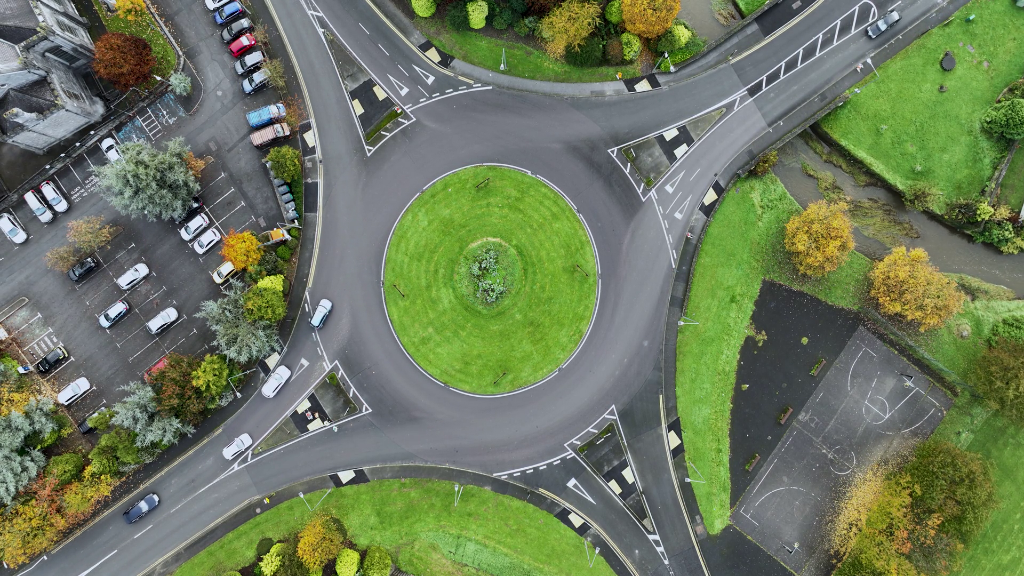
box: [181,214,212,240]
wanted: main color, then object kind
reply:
white car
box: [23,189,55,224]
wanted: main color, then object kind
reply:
white car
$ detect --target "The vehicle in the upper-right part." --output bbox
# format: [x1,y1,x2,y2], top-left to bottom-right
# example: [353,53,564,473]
[864,9,904,40]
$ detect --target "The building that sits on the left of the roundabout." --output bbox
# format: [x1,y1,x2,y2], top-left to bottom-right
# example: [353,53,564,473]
[0,0,107,153]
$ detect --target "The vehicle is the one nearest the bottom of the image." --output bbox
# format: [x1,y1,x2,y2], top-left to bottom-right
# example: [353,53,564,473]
[121,493,161,525]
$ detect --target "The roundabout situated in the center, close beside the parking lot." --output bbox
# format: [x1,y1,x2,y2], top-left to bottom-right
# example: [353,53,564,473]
[305,88,768,474]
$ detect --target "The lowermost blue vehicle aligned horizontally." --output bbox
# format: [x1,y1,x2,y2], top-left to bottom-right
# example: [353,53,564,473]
[245,103,289,128]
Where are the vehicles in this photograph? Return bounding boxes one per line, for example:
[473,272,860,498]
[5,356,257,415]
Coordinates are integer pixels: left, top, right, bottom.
[310,297,333,330]
[39,179,71,215]
[260,365,292,399]
[23,189,55,224]
[99,300,132,327]
[245,103,289,128]
[193,228,225,255]
[864,9,904,40]
[145,307,181,334]
[116,264,152,290]
[211,261,240,284]
[233,50,269,75]
[0,211,30,245]
[67,256,101,282]
[73,409,107,436]
[54,377,93,406]
[172,196,207,224]
[181,214,212,240]
[102,135,125,161]
[220,433,254,461]
[37,346,71,373]
[228,34,259,56]
[243,69,273,94]
[206,0,238,12]
[121,493,161,525]
[249,125,293,150]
